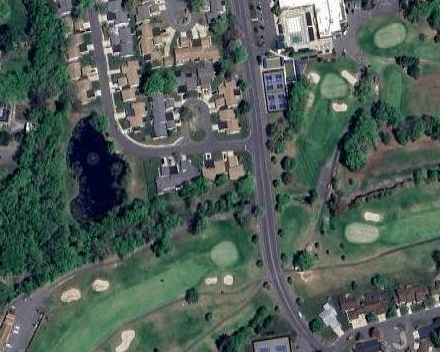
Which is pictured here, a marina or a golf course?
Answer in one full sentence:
It's a golf course.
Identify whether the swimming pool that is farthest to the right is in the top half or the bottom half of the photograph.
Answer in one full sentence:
You can find the swimming pool that is farthest to the right in the top half.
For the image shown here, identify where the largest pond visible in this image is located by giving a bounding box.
[67,114,130,225]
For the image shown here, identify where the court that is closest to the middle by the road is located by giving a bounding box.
[262,69,289,112]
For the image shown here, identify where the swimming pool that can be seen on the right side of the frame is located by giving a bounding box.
[284,16,307,48]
